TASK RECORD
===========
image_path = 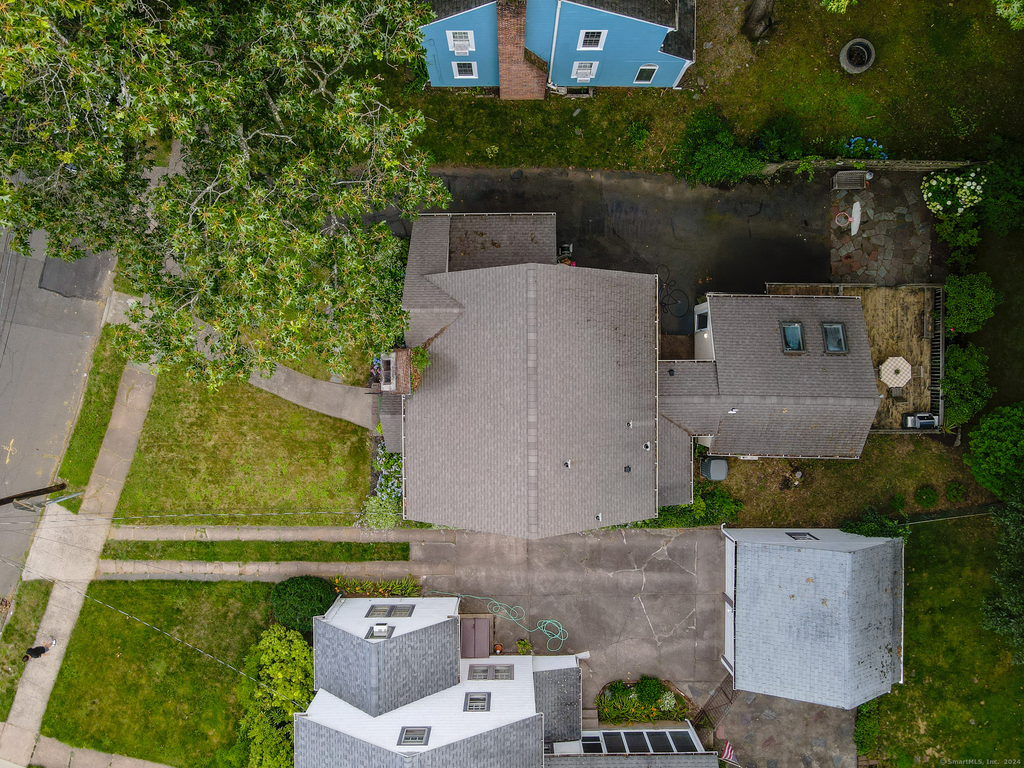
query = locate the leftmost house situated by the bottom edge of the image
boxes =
[292,592,719,768]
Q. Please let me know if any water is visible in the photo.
No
